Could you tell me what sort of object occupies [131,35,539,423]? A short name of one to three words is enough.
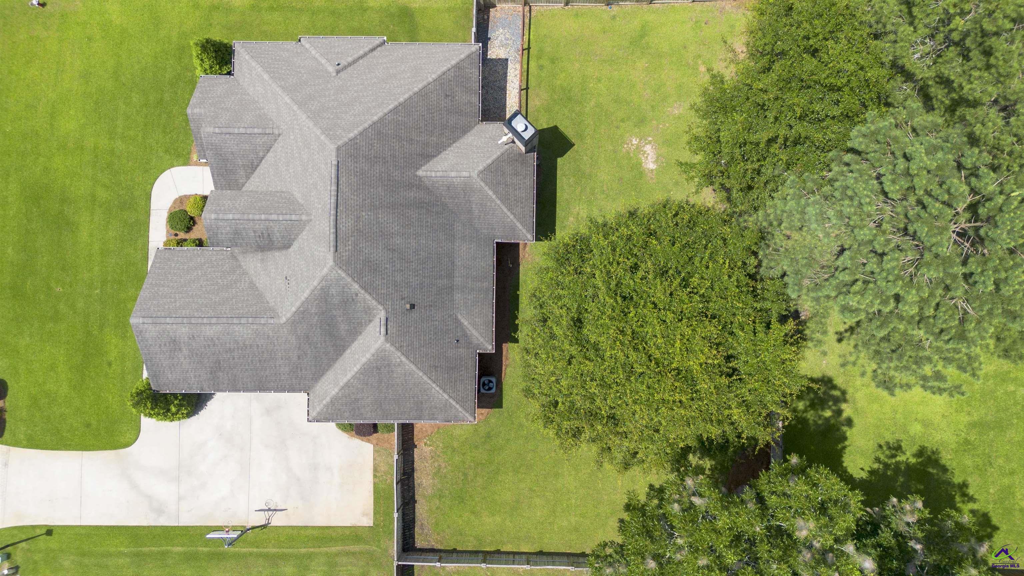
house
